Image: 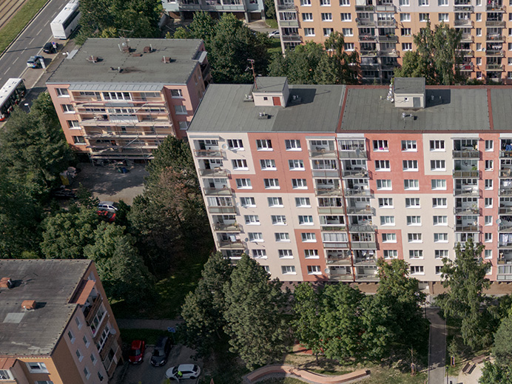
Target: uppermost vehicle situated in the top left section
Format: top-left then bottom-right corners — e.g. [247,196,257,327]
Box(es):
[54,5,82,35]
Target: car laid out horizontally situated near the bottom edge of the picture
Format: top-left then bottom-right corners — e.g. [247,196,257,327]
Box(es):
[161,363,201,382]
